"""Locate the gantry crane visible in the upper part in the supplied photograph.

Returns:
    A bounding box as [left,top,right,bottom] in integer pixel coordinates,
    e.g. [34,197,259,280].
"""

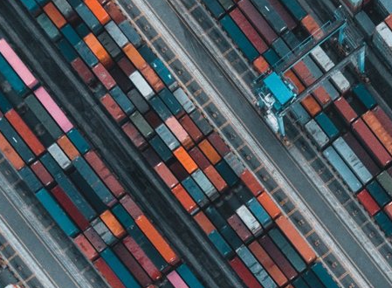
[240,17,371,146]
